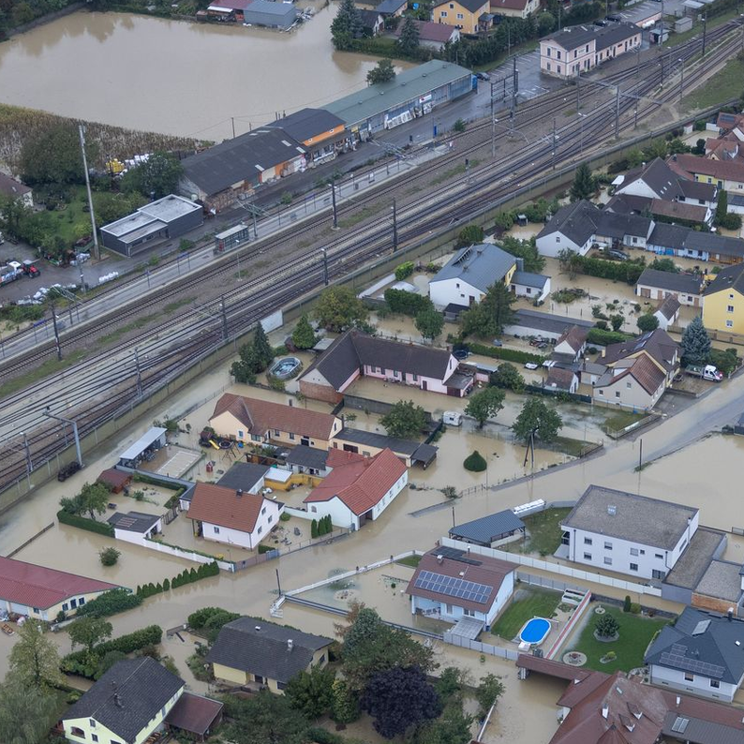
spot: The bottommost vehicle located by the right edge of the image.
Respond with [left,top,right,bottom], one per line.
[684,365,724,384]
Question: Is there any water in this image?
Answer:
Yes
